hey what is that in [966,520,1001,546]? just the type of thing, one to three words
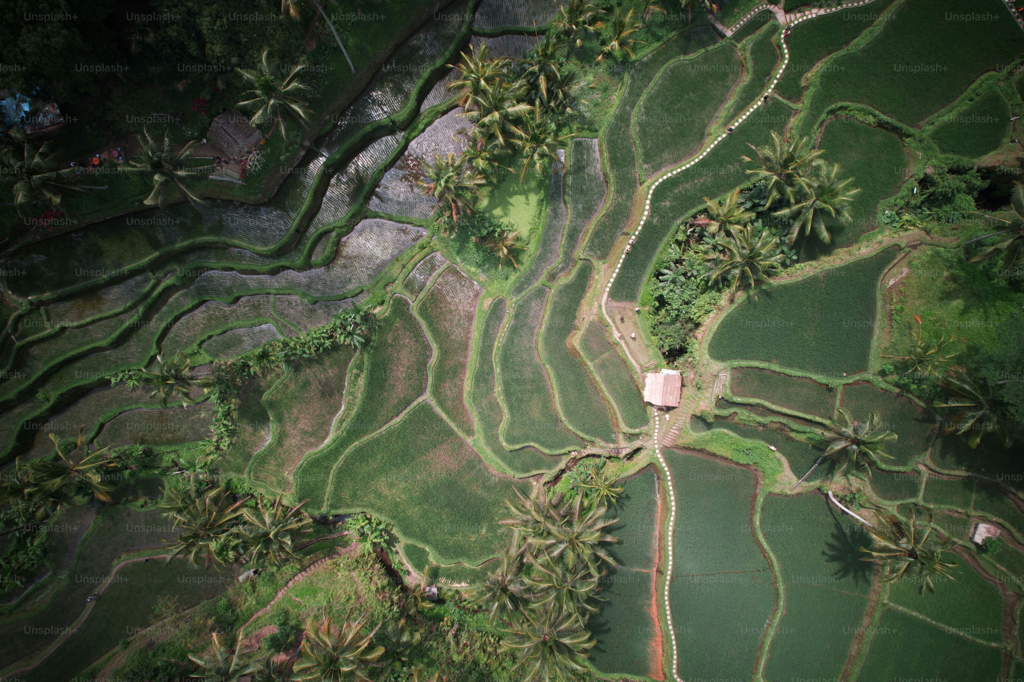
shed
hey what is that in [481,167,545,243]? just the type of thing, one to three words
pond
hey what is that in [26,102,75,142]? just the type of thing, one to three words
shed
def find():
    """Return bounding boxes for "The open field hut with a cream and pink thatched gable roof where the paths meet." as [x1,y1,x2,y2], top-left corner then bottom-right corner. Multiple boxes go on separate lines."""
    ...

[642,371,682,409]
